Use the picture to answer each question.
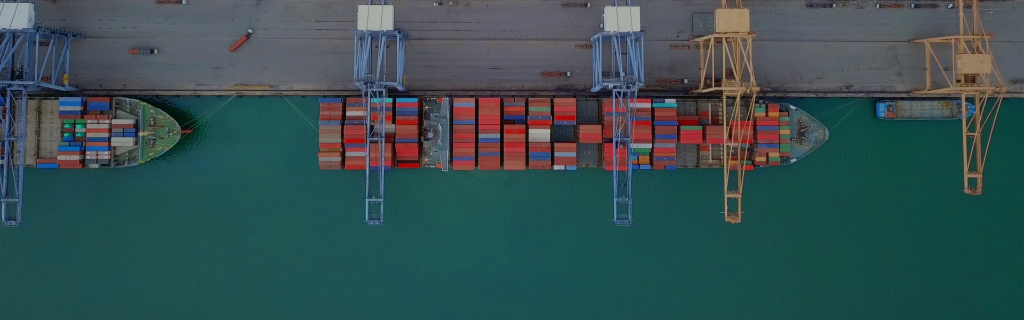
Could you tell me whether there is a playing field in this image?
No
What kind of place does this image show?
port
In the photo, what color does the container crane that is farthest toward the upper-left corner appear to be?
blue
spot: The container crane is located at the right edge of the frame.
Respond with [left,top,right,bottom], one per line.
[908,0,1007,195]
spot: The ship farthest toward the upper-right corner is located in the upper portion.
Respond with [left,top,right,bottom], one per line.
[876,100,975,119]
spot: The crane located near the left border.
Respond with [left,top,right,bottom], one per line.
[0,0,89,230]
